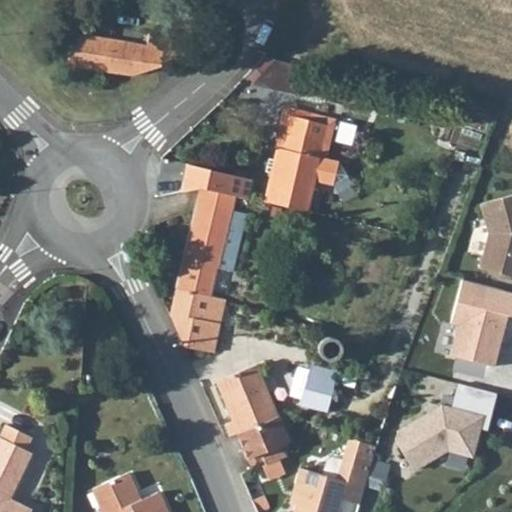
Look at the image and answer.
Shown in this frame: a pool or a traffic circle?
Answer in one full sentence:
The one in the frame is a traffic circle.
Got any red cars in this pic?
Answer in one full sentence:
No, I can see no red car in this picture.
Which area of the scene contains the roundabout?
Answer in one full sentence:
The roundabout is in the left part of the image.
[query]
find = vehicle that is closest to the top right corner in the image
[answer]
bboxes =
[255,22,271,45]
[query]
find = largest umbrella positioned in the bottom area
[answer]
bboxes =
[274,387,288,400]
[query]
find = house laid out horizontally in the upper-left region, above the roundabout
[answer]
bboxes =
[68,36,164,76]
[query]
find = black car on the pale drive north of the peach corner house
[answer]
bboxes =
[12,414,36,430]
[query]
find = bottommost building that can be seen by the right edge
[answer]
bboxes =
[396,384,498,472]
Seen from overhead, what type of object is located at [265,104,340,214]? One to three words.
house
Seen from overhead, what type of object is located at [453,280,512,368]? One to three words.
house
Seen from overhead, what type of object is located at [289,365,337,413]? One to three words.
building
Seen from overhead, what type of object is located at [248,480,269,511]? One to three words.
shed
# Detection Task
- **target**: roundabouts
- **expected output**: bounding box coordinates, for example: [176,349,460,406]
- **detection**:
[13,128,150,280]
